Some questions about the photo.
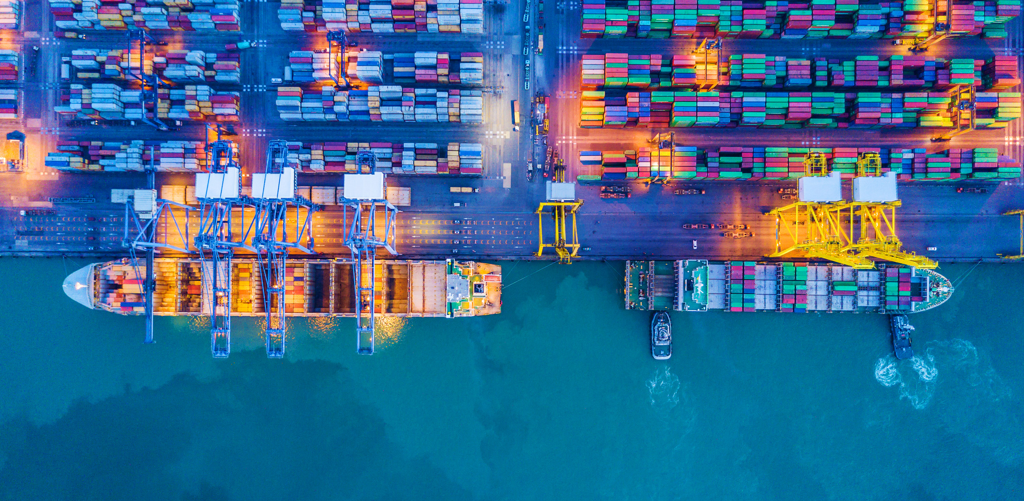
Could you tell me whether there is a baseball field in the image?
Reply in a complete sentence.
No, there appears to be no baseball field in this shot.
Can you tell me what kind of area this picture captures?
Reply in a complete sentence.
The area seen from above is a port.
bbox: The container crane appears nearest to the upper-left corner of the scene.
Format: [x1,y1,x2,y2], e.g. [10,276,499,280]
[127,27,164,85]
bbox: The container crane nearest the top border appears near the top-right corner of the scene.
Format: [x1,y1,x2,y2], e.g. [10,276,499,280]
[910,0,951,52]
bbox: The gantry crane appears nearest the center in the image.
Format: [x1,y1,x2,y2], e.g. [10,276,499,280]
[528,160,583,268]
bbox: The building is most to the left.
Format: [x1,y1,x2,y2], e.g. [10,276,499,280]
[0,139,32,168]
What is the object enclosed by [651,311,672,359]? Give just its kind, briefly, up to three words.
boat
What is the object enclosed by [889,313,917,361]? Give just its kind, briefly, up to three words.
boat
